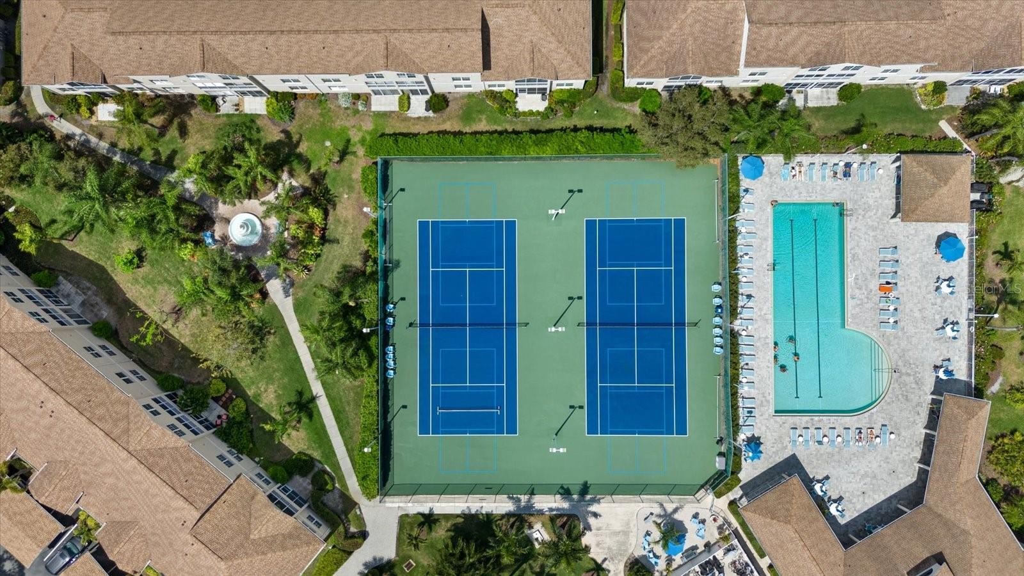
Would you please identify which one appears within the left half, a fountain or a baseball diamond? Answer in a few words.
fountain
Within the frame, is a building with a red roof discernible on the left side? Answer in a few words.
No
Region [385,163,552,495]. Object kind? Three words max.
tennis court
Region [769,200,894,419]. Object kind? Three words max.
swimming pool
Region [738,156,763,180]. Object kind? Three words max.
umbrella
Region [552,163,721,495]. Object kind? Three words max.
tennis court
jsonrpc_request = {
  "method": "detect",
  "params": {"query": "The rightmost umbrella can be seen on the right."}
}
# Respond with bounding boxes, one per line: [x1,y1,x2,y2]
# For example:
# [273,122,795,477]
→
[937,237,961,261]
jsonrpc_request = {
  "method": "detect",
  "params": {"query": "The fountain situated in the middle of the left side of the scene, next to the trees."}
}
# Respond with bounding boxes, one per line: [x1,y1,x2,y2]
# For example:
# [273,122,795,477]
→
[228,212,265,248]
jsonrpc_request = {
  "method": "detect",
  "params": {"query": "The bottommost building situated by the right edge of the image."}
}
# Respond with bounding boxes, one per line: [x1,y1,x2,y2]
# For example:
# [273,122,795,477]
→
[742,394,1024,576]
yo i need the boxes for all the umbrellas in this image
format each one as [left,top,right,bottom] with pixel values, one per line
[664,530,689,555]
[738,156,763,180]
[741,436,763,463]
[937,237,961,261]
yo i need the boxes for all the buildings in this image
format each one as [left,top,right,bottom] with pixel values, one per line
[622,0,1024,92]
[887,154,971,224]
[742,394,1024,576]
[21,0,592,98]
[0,256,330,576]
